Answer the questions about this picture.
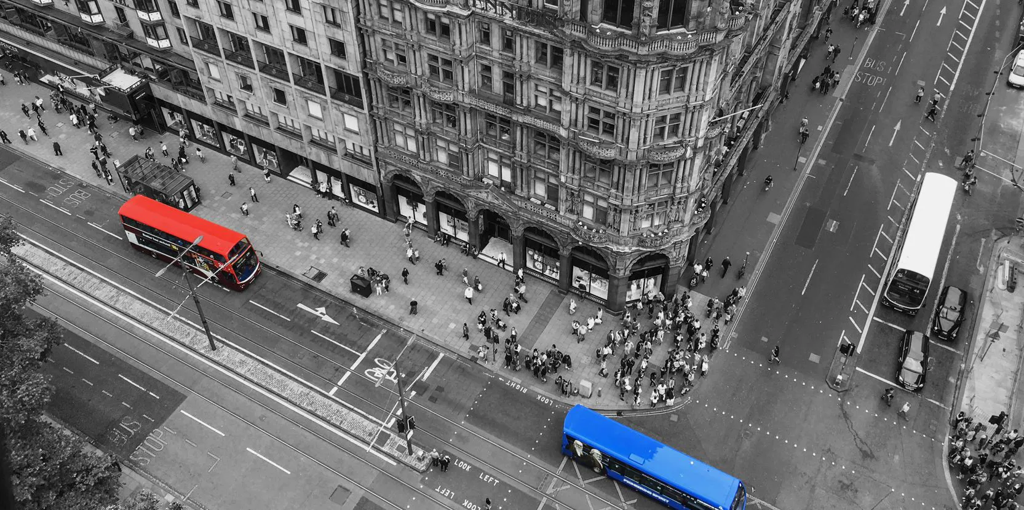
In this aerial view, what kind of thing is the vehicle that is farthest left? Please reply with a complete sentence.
The vehicle that is farthest left in the image is a bus.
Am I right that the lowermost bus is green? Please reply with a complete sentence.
No, the lowermost bus is blue.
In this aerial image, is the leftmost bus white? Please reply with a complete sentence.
No, from above the leftmost bus looks red.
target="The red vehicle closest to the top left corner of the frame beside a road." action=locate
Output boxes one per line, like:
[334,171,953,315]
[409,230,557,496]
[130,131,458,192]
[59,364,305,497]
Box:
[122,191,262,296]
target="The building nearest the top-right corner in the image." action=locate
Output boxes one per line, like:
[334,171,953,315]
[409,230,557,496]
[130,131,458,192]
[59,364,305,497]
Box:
[346,0,839,309]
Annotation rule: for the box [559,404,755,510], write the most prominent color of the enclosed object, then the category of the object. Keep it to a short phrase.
blue bus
